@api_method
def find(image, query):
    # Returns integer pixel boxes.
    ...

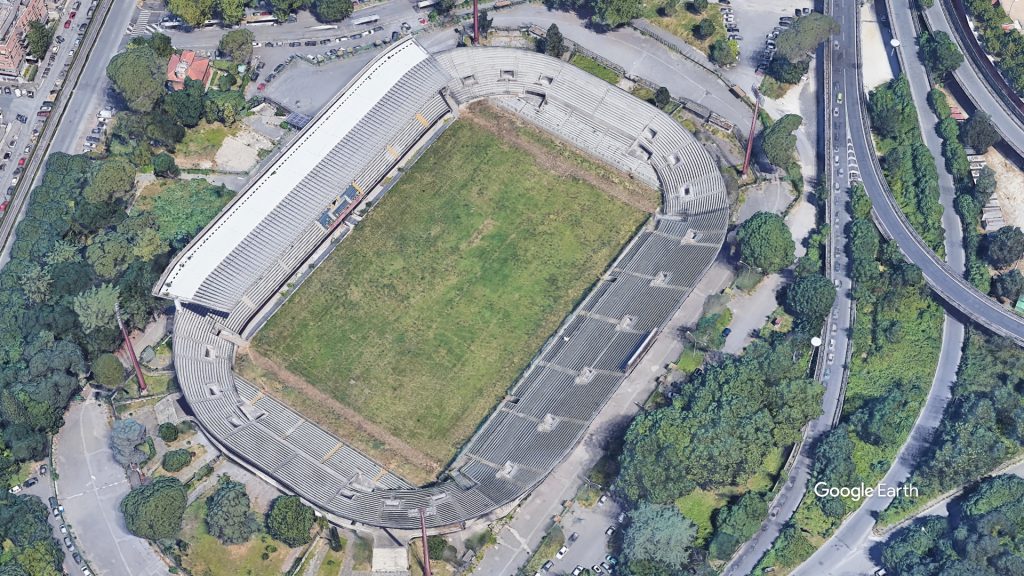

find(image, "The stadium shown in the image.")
[152,38,731,533]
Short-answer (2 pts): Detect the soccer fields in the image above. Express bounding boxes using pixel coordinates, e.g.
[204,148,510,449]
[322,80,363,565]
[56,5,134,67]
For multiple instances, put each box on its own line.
[227,98,664,483]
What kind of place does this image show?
sports ground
